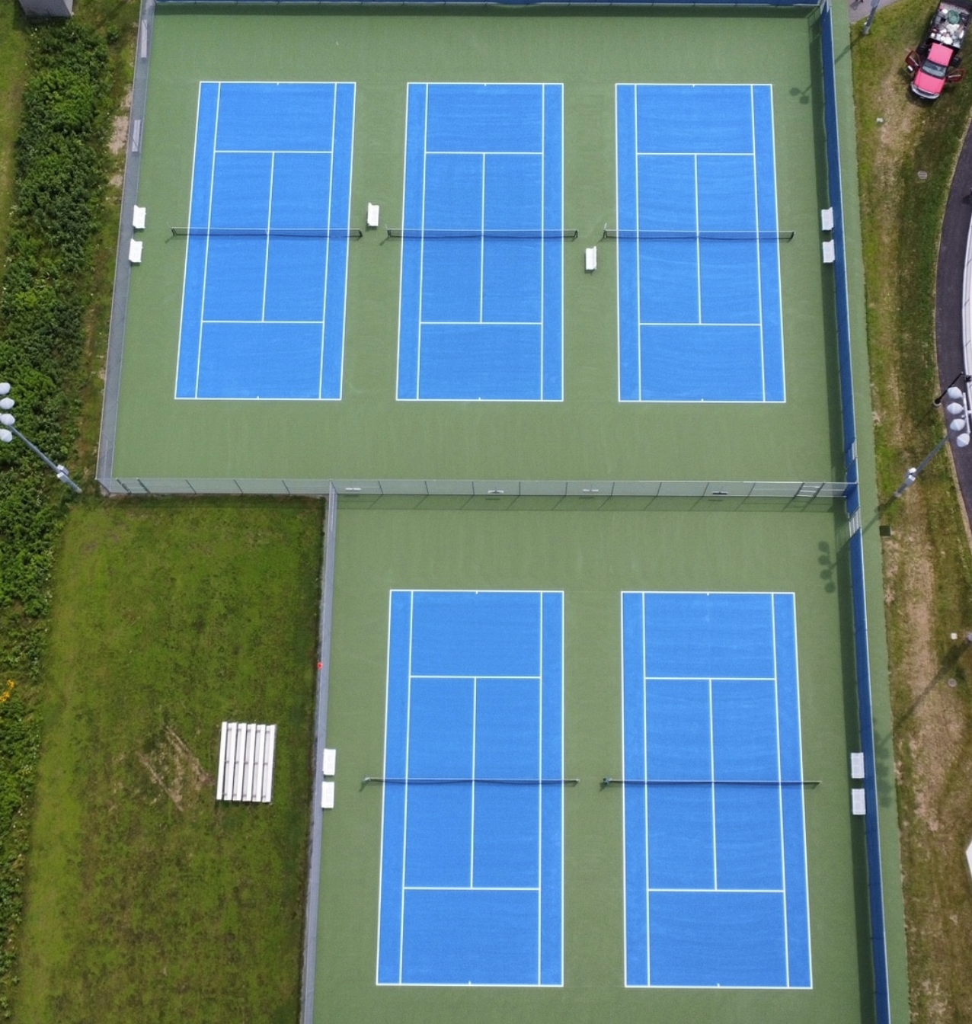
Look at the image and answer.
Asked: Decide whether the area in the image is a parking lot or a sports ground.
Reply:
sports ground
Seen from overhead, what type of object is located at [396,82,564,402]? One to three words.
tennis court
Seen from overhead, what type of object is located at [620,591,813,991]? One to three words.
tennis court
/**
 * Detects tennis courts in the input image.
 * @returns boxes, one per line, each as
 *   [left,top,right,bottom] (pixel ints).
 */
[615,83,787,404]
[620,591,813,991]
[175,81,356,401]
[376,590,564,988]
[396,82,564,402]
